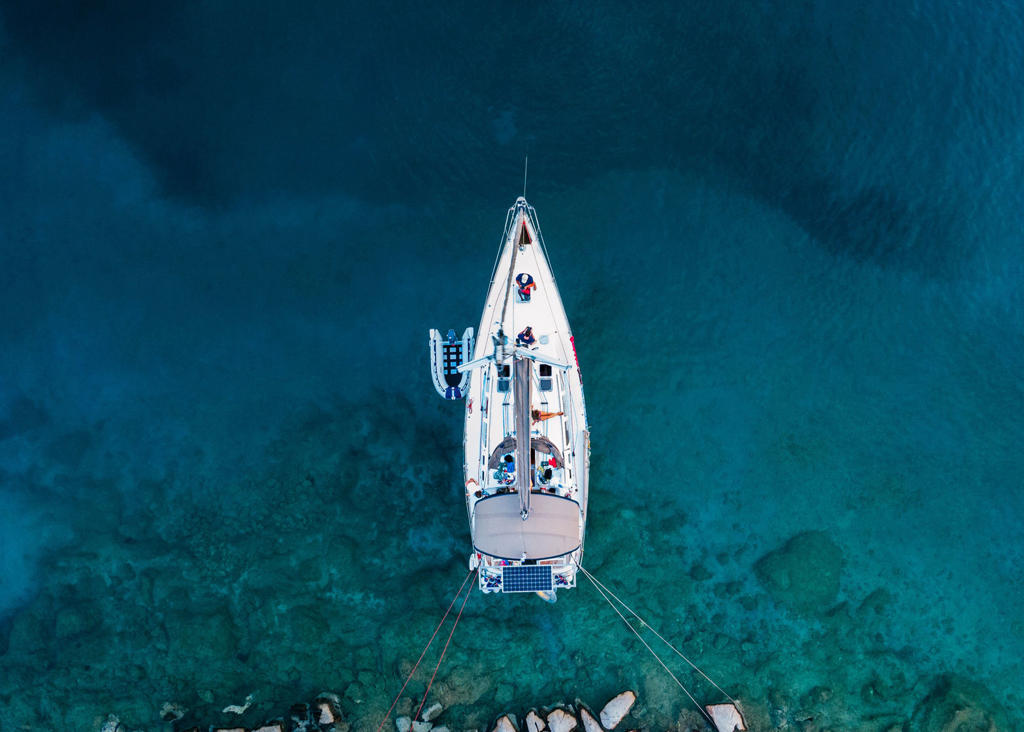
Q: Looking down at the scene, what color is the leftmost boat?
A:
blue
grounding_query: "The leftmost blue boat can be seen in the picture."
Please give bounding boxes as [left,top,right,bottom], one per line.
[429,328,475,399]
